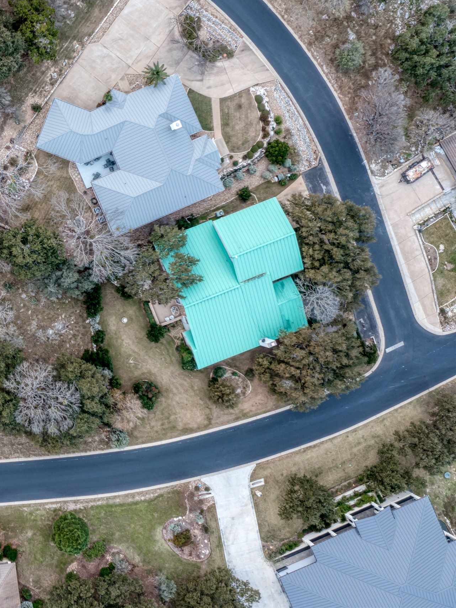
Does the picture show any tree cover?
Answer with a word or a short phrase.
Yes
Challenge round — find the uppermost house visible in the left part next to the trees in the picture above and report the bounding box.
[35,73,225,236]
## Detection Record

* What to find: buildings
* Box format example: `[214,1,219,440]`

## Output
[0,551,21,608]
[153,198,307,370]
[271,495,456,608]
[430,131,456,192]
[35,73,225,236]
